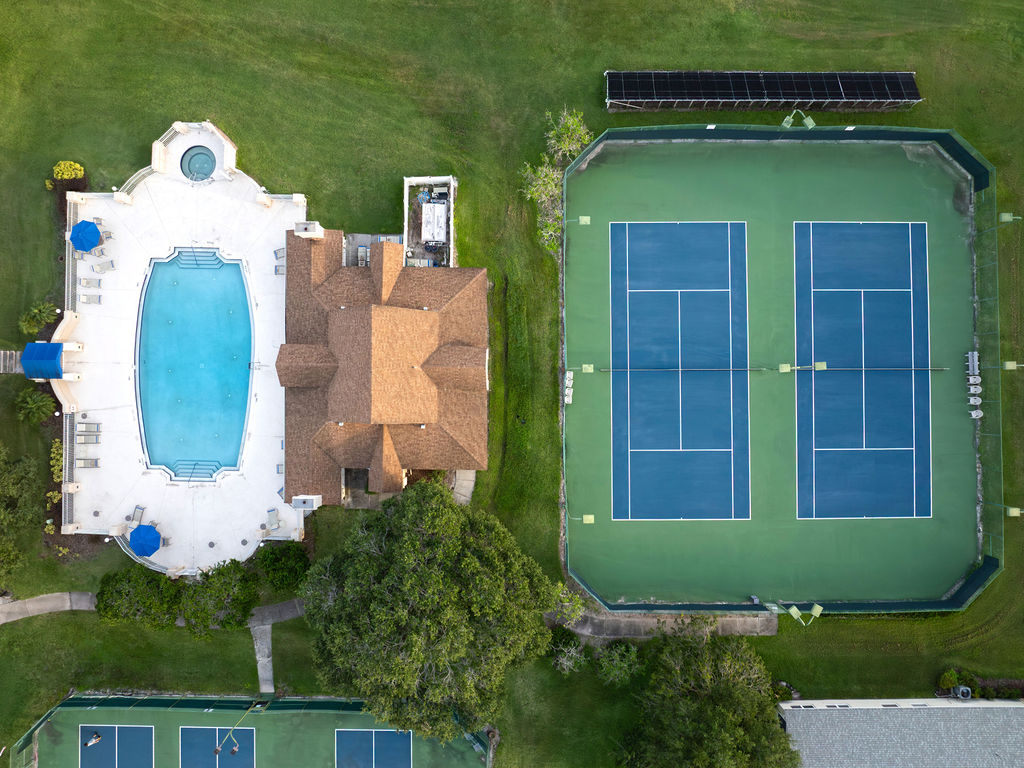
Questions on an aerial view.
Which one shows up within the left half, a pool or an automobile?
pool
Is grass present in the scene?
Yes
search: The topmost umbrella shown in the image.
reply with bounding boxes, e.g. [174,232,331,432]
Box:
[68,219,106,253]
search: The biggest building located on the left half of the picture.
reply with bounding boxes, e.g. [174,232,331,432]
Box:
[276,221,489,509]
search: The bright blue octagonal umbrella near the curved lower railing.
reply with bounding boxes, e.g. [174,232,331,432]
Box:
[129,524,164,556]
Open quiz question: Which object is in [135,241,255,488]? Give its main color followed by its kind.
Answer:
blue swimming pool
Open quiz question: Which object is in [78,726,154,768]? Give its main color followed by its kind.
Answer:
blue sports court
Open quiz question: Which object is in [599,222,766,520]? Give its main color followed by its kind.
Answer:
blue tennis court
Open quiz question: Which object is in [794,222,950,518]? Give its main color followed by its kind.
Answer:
blue tennis court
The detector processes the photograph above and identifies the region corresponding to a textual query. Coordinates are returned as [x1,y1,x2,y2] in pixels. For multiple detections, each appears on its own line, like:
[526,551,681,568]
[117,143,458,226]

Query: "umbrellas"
[129,524,164,556]
[68,219,106,253]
